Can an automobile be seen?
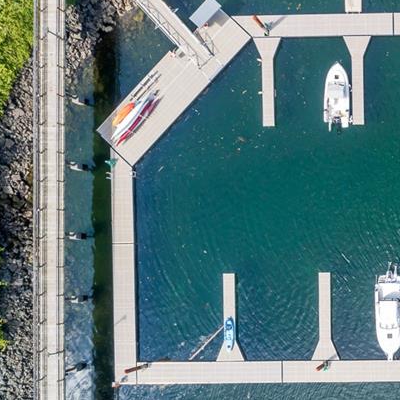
No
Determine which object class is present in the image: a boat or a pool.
boat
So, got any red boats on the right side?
No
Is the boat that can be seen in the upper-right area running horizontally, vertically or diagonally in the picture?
vertically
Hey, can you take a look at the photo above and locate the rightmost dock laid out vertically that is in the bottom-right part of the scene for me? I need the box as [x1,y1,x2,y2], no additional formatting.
[311,272,340,360]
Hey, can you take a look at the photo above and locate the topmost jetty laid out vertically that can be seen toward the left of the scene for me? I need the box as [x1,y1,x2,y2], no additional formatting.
[111,152,137,244]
